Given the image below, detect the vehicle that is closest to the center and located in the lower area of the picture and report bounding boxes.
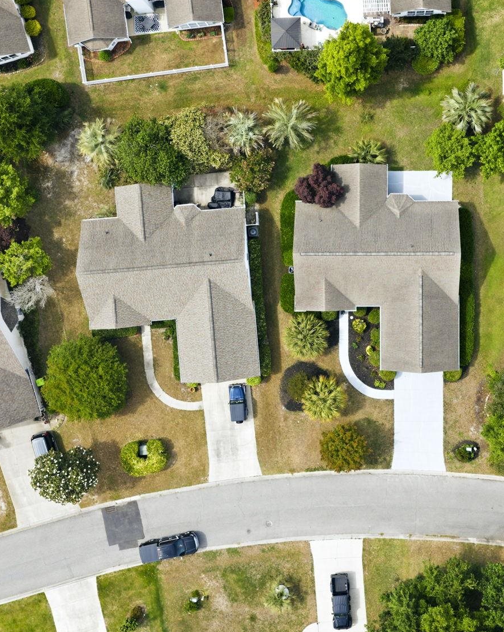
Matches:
[225,381,250,428]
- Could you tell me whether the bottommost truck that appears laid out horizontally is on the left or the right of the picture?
left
